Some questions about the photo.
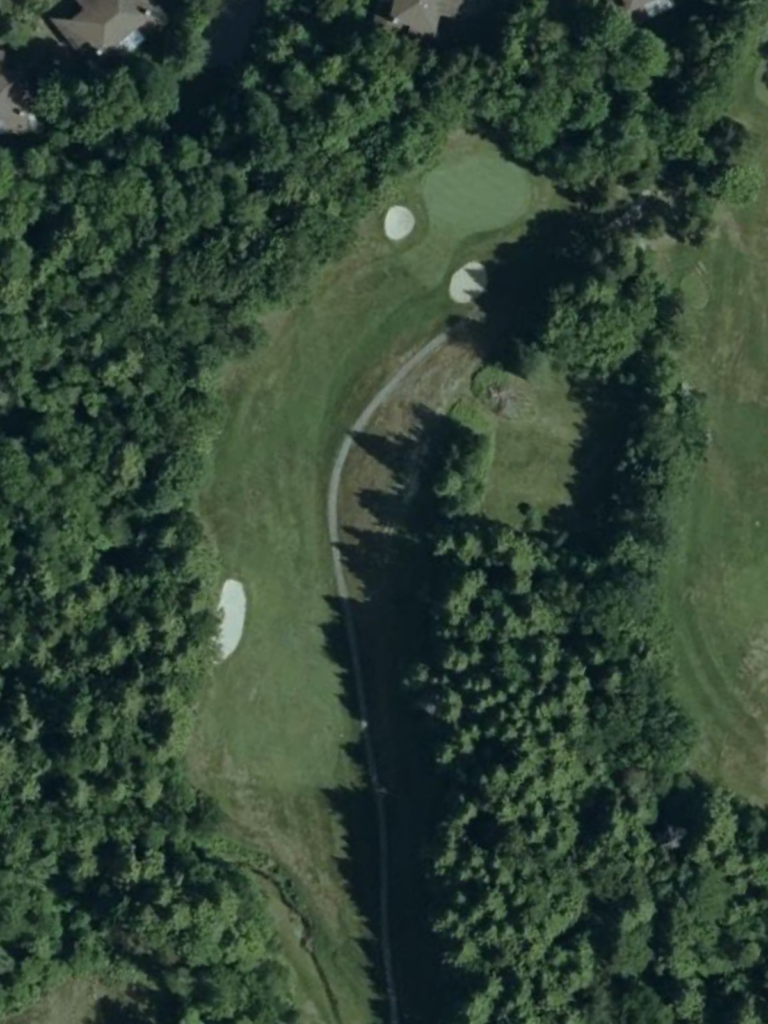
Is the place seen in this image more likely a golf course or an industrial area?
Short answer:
golf course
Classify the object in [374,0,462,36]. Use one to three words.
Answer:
house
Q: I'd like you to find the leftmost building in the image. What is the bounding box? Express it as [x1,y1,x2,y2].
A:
[0,48,39,133]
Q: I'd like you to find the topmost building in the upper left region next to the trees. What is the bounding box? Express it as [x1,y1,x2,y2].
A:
[52,0,155,57]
